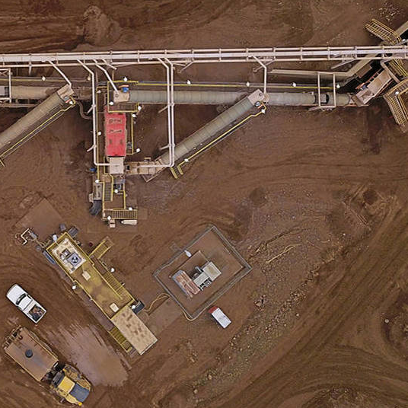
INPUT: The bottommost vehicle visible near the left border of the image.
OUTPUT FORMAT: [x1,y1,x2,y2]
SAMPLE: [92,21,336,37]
[1,323,86,403]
